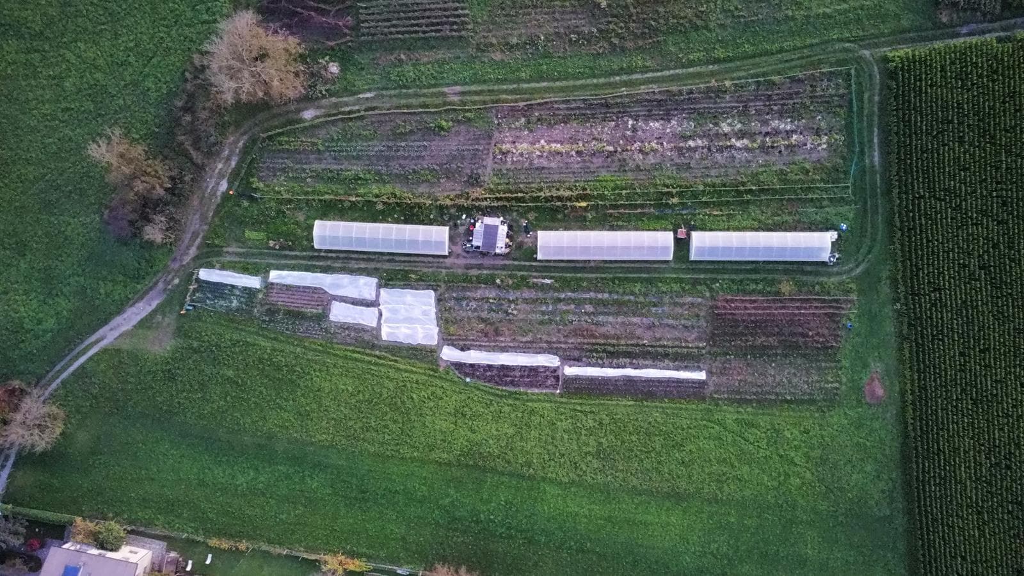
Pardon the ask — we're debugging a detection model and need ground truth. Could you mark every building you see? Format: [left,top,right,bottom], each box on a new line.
[473,217,507,252]
[42,525,150,576]
[312,220,450,255]
[689,231,836,261]
[537,231,675,260]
